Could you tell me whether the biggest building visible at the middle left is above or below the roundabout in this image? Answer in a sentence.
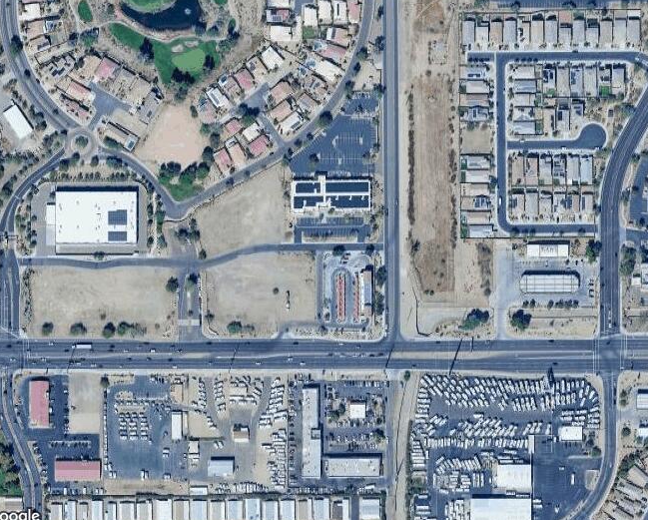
Looking at the scene, the biggest building visible at the middle left is located below the roundabout.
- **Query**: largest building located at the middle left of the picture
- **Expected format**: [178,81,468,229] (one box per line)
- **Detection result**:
[45,192,138,245]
